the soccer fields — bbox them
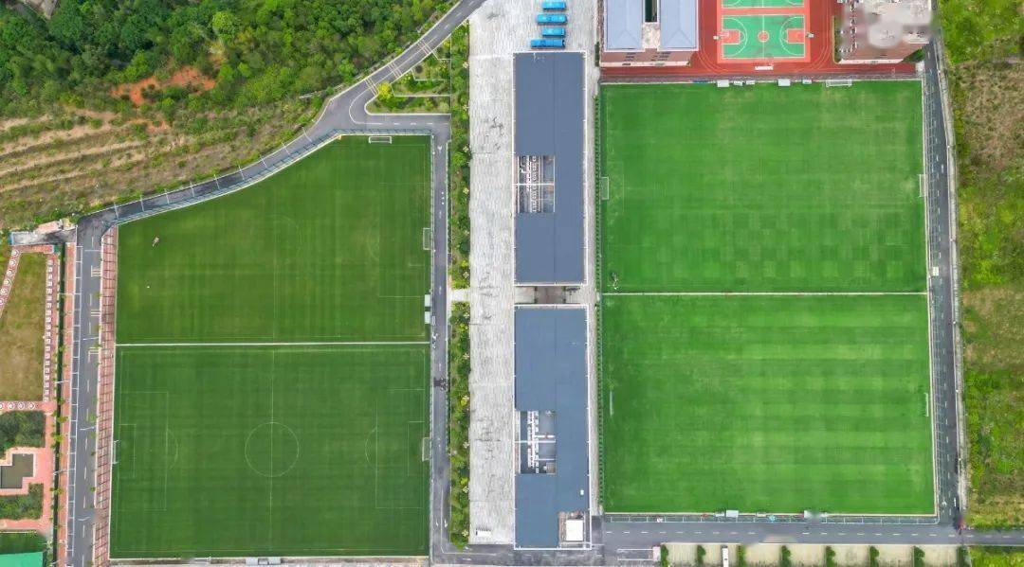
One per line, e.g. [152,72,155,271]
[604,294,936,517]
[603,79,929,295]
[109,343,430,559]
[115,134,430,346]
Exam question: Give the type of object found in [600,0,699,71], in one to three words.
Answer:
building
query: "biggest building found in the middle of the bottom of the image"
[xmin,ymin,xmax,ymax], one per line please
[515,306,590,550]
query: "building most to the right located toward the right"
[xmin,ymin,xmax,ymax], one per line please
[840,0,932,66]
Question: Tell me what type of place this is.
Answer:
sports ground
